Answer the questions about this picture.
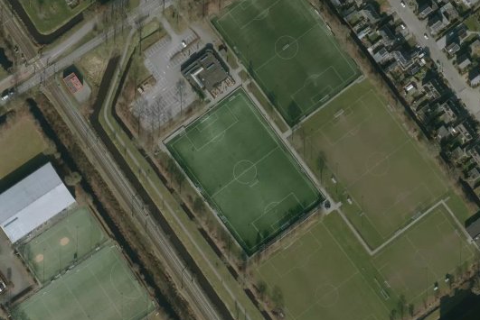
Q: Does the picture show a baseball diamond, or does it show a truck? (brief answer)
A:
baseball diamond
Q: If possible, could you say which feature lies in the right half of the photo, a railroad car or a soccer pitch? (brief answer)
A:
soccer pitch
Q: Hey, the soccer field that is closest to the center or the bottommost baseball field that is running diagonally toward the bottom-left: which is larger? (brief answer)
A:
the soccer field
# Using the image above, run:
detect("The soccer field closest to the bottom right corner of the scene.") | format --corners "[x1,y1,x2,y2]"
[375,213,472,303]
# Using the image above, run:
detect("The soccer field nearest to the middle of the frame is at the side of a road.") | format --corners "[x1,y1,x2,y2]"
[165,89,323,256]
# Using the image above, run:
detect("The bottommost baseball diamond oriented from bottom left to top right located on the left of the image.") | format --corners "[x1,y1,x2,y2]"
[21,206,111,283]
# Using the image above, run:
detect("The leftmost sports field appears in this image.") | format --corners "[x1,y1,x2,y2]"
[0,106,49,177]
